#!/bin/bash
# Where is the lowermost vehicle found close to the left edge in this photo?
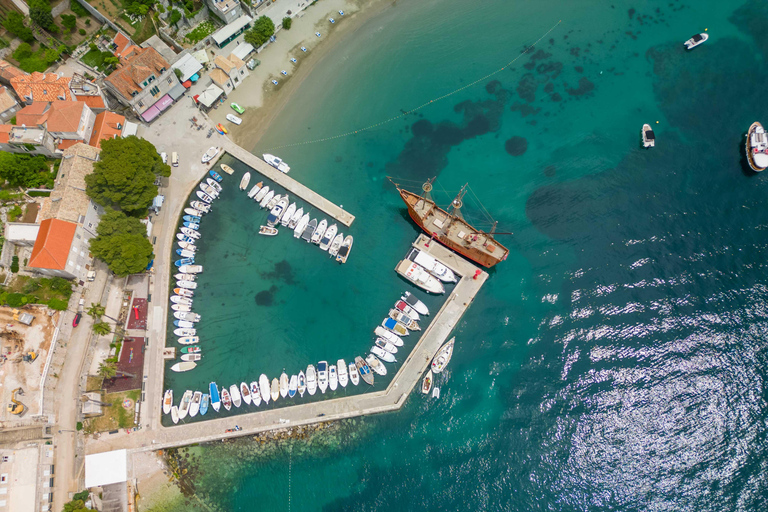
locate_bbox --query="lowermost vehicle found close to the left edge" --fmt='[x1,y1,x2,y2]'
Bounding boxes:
[8,388,26,416]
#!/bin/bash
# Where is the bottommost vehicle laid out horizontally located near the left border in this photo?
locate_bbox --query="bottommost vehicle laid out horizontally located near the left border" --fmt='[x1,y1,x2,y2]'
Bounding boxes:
[10,351,40,364]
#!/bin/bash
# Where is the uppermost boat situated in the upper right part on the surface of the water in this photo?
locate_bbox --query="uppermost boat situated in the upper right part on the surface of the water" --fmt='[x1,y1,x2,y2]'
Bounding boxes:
[682,34,708,50]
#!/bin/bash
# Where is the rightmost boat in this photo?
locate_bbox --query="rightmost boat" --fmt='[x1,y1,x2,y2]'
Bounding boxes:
[746,121,768,173]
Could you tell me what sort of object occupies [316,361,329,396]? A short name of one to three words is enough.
boat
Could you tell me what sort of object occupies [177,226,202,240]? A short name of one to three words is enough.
boat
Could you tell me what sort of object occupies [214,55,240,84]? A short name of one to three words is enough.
house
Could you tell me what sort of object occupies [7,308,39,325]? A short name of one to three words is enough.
vehicle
